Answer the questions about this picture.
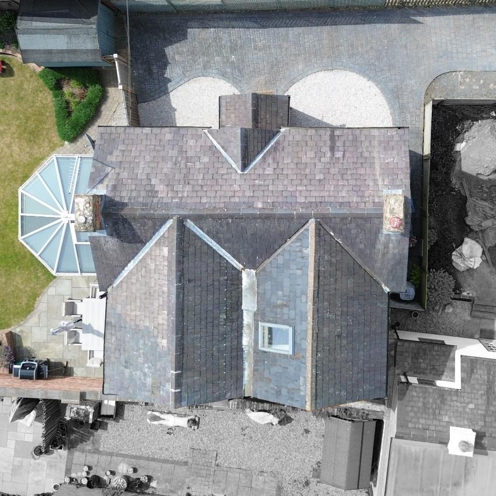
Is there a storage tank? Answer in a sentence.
No, I can see no storage tank in this picture.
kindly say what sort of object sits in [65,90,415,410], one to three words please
house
